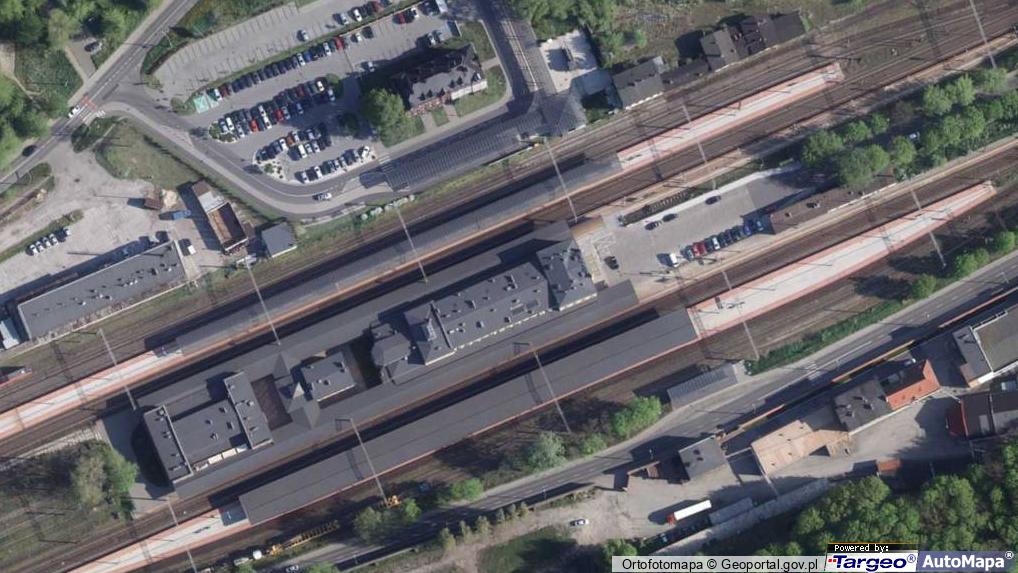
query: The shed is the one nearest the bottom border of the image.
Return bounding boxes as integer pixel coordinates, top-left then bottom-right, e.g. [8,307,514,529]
[709,498,754,526]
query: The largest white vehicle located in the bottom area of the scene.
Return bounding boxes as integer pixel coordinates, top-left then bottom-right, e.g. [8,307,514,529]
[665,498,713,524]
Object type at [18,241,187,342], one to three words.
building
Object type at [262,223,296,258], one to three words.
shed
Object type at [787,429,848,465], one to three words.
building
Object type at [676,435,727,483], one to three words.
house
